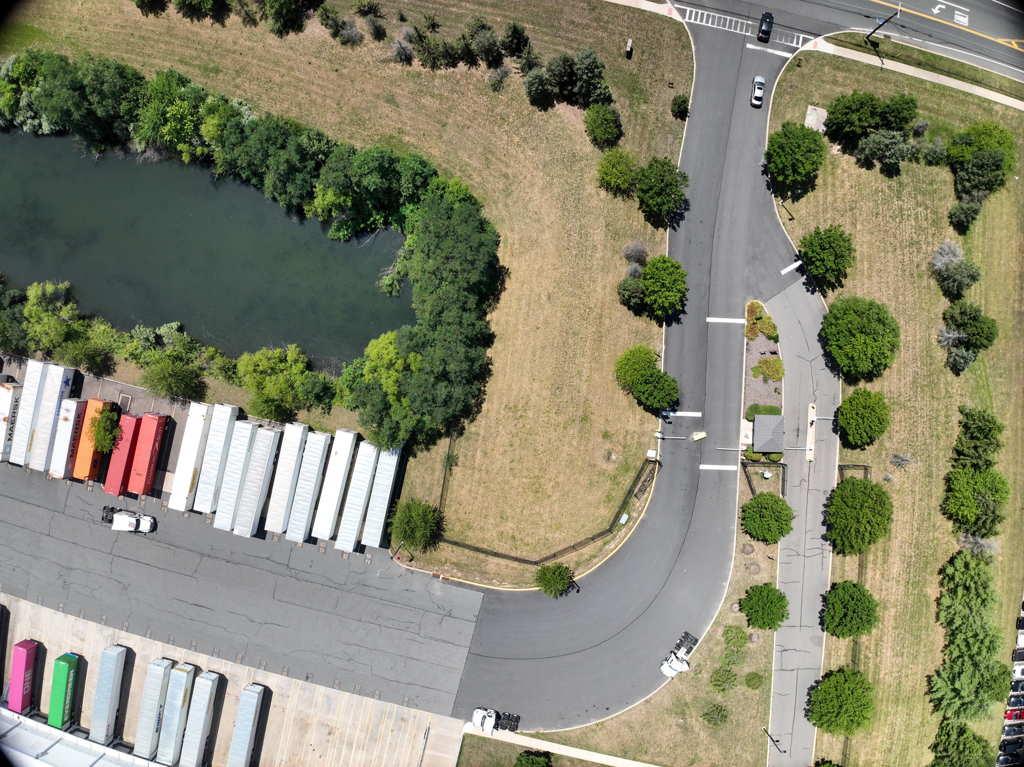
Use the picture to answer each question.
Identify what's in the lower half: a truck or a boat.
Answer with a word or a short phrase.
truck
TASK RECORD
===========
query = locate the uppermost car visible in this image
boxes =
[756,12,775,45]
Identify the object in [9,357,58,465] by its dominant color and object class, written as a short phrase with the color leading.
white trailer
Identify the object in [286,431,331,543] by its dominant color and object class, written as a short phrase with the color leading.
white trailer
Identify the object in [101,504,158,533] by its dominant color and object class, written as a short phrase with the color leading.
white truck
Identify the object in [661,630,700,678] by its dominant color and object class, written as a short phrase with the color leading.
white truck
